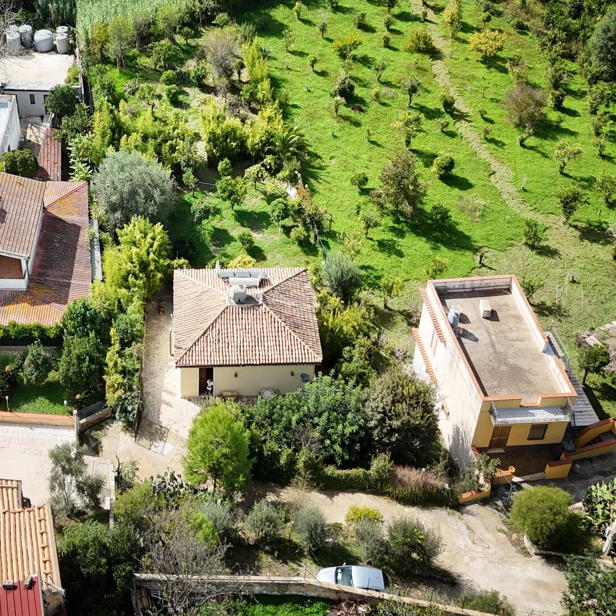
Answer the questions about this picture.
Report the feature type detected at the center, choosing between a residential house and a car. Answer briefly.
residential house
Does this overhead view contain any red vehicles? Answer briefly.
No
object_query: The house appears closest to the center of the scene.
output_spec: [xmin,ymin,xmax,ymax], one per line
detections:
[172,266,324,390]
